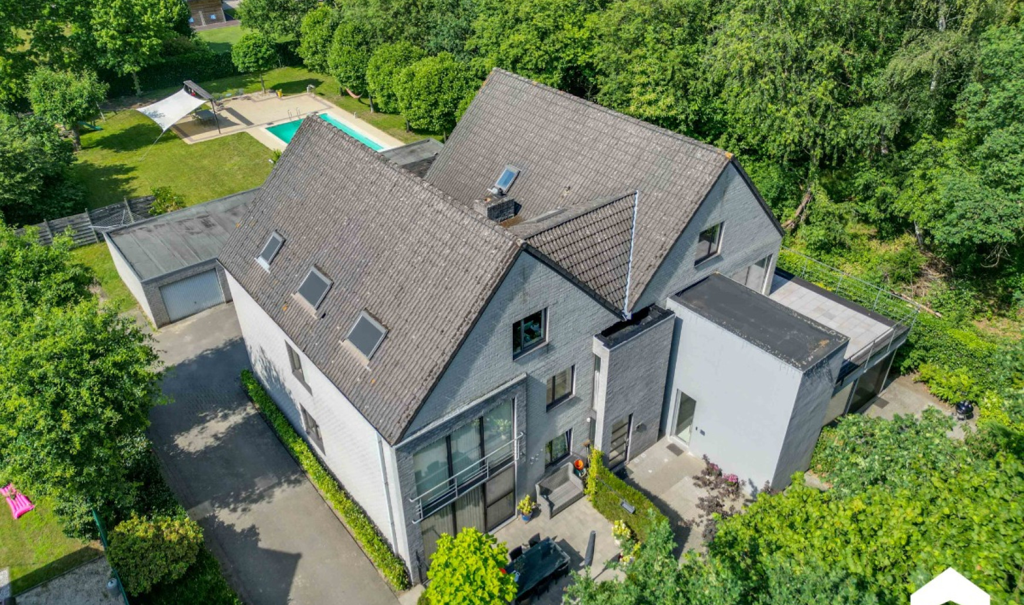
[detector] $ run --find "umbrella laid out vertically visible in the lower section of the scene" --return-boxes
[585,519,600,568]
